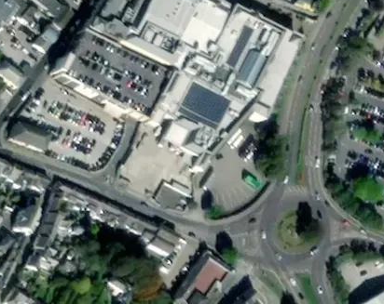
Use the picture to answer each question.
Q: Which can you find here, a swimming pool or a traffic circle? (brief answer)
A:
traffic circle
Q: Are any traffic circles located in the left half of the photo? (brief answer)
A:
No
